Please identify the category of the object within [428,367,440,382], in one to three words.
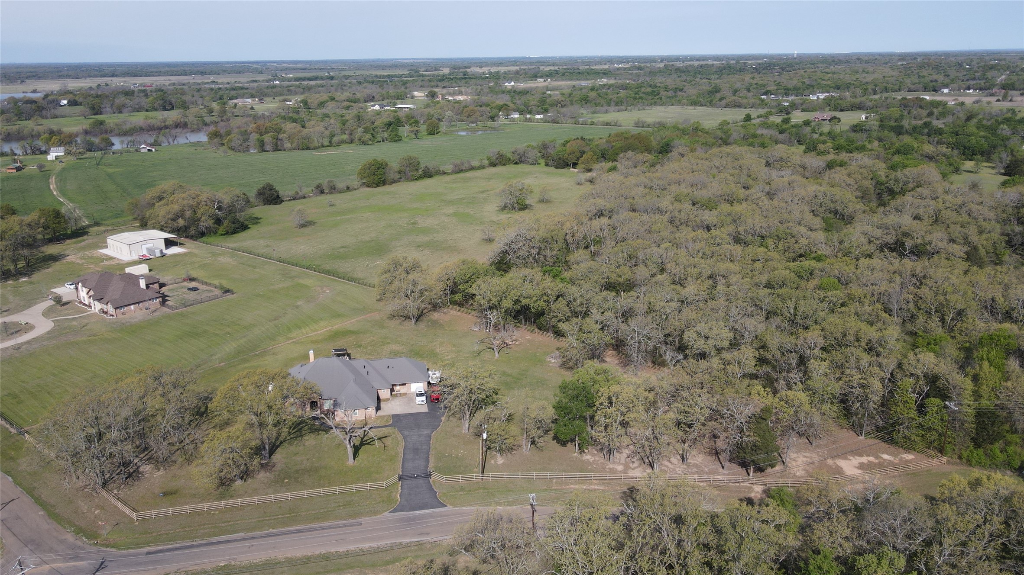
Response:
boat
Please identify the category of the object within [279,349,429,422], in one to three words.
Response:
house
